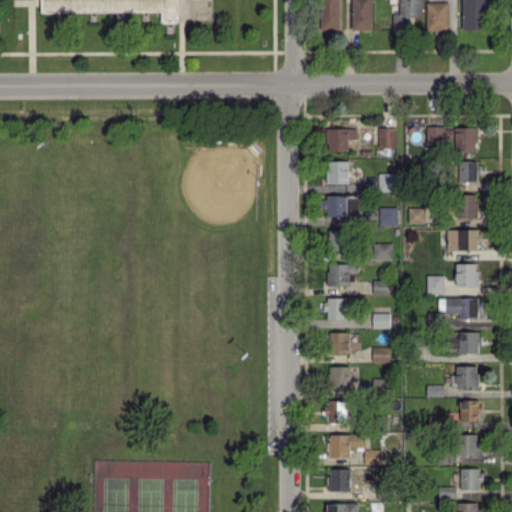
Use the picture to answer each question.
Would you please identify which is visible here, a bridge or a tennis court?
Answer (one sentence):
The image shows a tennis court.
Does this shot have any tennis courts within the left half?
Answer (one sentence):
Yes, looking within the left half, one can make out a tennis court.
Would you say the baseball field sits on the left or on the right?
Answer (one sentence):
It is on the left.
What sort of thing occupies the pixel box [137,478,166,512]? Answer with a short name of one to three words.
tennis court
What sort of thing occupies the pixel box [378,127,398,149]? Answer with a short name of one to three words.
building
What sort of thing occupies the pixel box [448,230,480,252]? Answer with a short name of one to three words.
house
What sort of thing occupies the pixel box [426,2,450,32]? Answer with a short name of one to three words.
house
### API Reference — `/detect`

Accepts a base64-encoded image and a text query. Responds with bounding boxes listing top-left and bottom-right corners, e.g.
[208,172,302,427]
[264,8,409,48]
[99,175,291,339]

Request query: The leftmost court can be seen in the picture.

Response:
[102,478,130,512]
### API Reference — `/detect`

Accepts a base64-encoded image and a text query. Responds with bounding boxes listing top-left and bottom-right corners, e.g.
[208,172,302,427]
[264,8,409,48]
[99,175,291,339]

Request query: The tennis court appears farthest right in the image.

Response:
[172,478,200,512]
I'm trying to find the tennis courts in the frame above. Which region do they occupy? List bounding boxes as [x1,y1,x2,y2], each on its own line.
[137,478,166,512]
[102,478,130,512]
[172,478,200,512]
